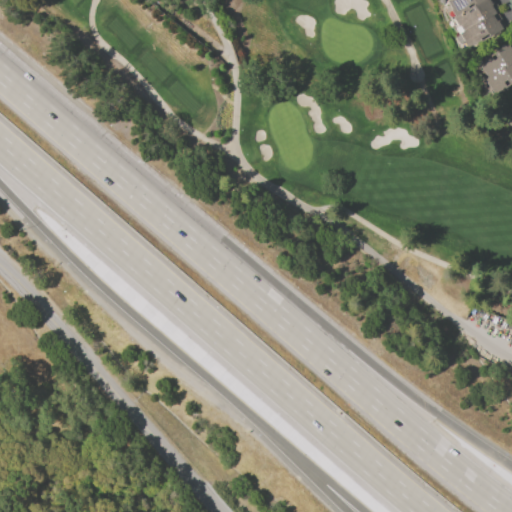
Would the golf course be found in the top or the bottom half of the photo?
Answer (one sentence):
The golf course is in the top half of the image.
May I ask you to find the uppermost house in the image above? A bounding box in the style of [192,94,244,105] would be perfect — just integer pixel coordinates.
[456,0,506,46]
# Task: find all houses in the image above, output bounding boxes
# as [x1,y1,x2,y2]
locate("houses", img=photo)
[484,42,512,92]
[456,0,506,46]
